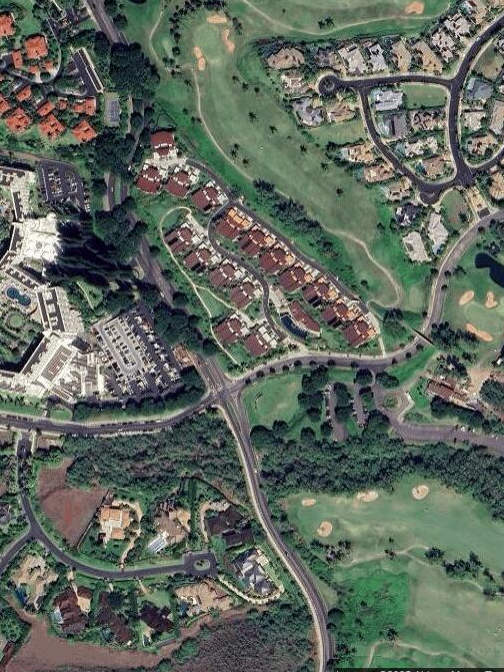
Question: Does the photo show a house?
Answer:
Yes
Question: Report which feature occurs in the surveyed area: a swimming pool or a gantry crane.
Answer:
swimming pool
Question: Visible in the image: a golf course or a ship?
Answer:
golf course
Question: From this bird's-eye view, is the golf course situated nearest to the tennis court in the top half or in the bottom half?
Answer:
top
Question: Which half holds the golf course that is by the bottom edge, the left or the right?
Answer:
right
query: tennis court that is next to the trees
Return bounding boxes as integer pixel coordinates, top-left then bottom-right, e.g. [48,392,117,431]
[104,93,122,125]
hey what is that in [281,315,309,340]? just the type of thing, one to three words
swimming pool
